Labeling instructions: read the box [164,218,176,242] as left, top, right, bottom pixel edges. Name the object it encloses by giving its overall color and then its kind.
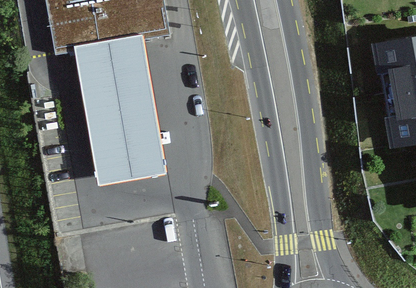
white vehicle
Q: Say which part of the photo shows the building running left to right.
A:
top left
